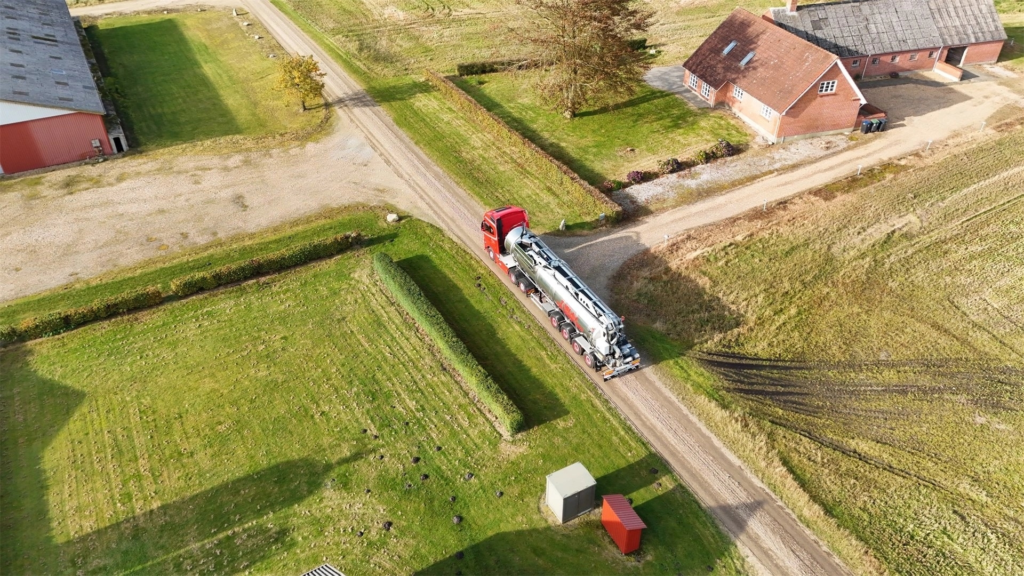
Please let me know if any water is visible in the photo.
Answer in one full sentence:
No, no water is visible.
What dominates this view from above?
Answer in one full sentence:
The largest share of the image is taken up by grass.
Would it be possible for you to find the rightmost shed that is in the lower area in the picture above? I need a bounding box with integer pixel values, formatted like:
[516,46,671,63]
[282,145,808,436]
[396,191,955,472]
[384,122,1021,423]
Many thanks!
[602,494,645,554]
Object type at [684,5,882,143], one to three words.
house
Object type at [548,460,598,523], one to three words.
shed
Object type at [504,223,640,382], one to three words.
trailer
